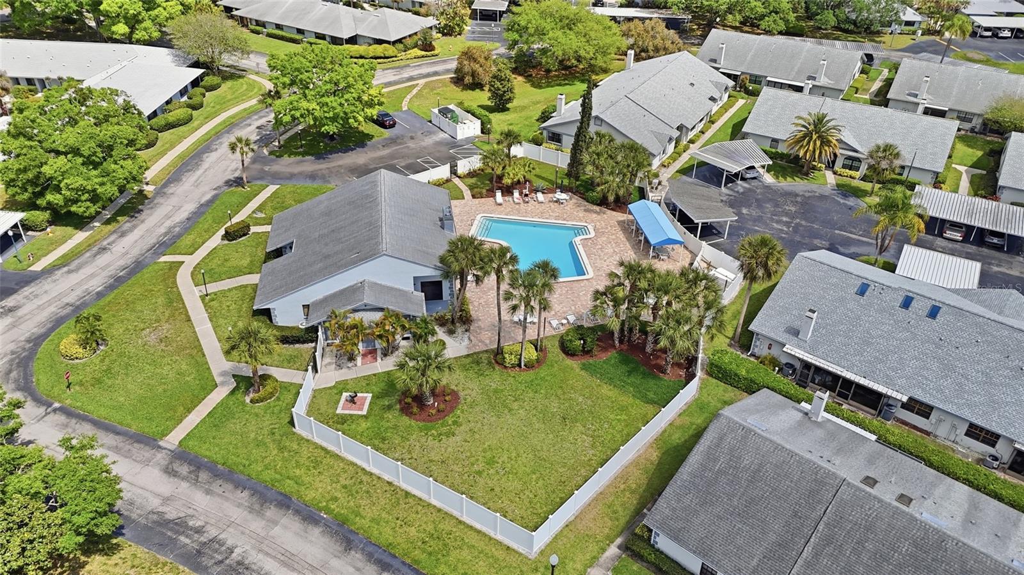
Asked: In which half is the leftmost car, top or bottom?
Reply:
top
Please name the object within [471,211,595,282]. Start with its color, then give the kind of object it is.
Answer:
blue swimming pool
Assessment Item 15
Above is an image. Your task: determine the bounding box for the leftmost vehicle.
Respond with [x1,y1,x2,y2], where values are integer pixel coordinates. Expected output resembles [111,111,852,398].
[368,110,401,130]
